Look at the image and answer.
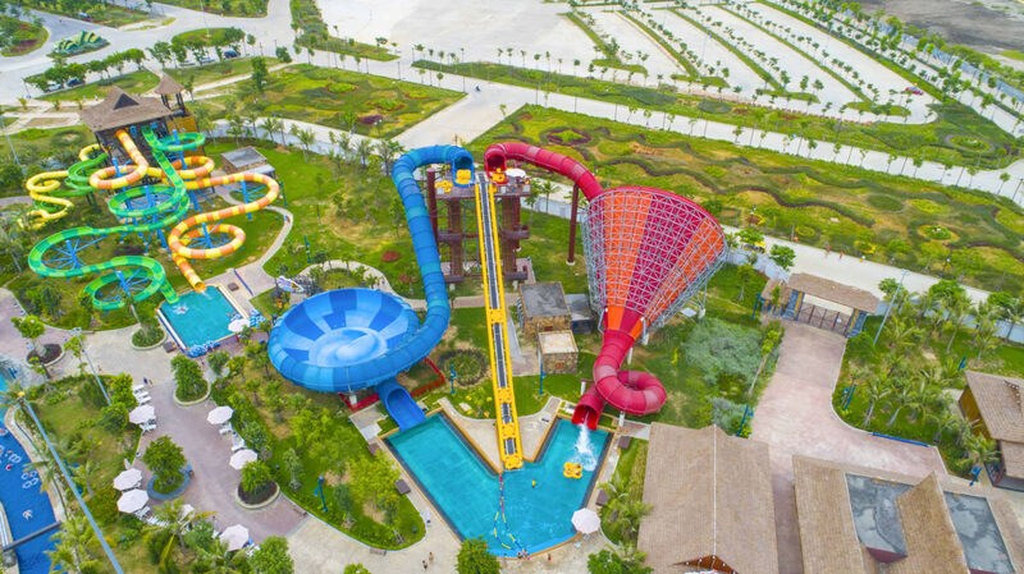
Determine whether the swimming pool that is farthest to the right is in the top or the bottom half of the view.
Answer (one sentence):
Seen from above, the swimming pool that is farthest to the right lies in the bottom half of the view.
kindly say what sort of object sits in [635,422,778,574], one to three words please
building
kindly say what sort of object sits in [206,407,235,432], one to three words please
umbrella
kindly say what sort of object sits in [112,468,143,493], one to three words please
umbrella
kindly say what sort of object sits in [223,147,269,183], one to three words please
shed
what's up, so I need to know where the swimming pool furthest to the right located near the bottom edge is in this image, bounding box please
[381,408,617,562]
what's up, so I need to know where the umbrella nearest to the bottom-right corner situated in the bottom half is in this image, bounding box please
[571,509,602,540]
